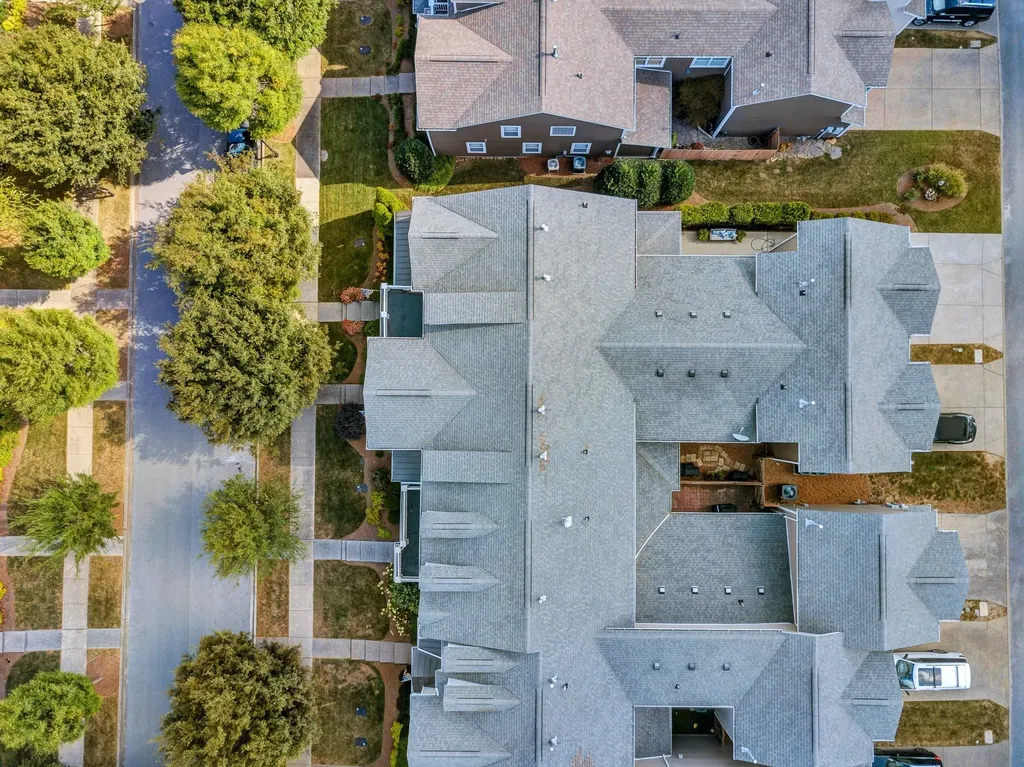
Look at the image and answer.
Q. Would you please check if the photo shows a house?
Yes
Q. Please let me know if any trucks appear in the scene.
No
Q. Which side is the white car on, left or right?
right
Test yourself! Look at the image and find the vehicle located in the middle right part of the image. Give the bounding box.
[932,412,976,445]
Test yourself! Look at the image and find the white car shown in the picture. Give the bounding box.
[894,649,973,694]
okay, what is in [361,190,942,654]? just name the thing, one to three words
house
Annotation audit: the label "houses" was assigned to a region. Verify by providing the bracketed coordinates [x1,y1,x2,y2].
[412,0,899,160]
[361,190,942,654]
